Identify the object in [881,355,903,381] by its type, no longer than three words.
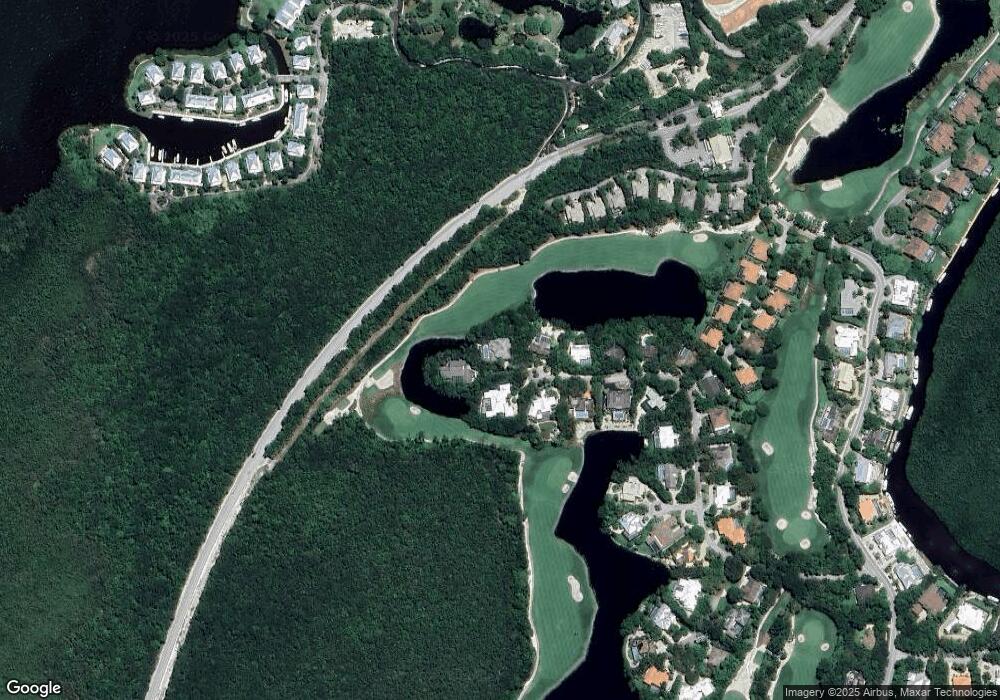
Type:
house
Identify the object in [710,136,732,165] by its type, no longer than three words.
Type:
building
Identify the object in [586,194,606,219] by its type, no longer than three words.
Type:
house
